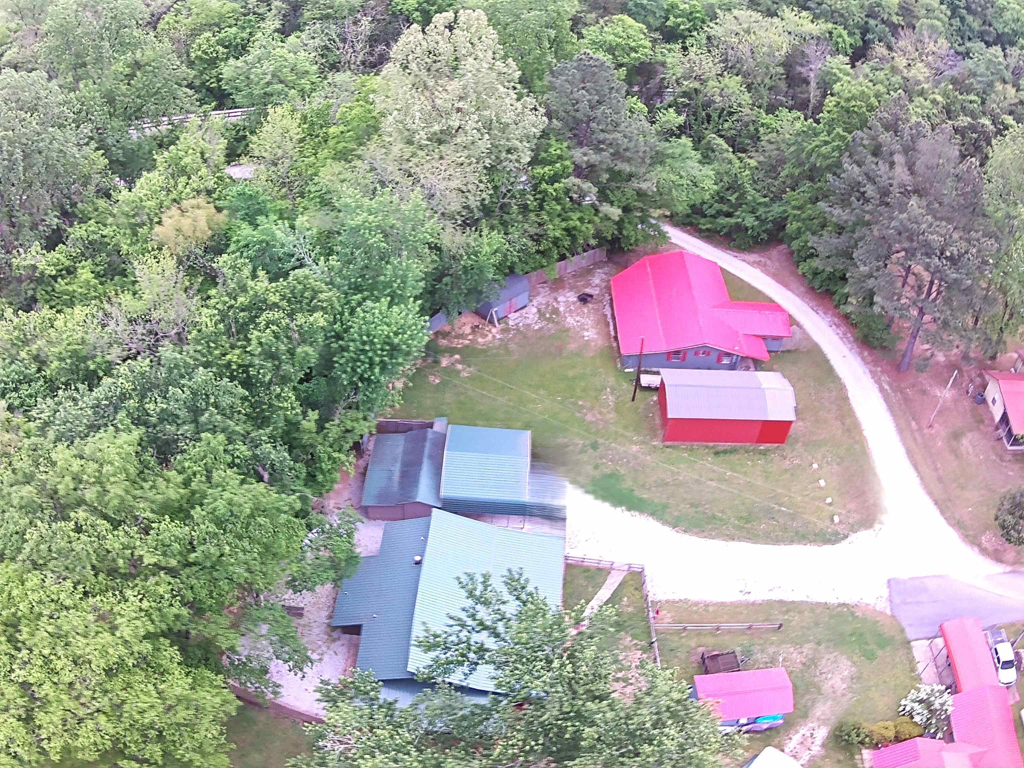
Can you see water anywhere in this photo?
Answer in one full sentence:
No, there's no water in this view.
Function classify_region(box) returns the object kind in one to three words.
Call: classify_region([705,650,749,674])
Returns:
trailer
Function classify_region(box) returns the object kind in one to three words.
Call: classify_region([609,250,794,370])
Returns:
house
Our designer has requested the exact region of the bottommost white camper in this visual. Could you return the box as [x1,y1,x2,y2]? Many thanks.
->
[759,744,809,768]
